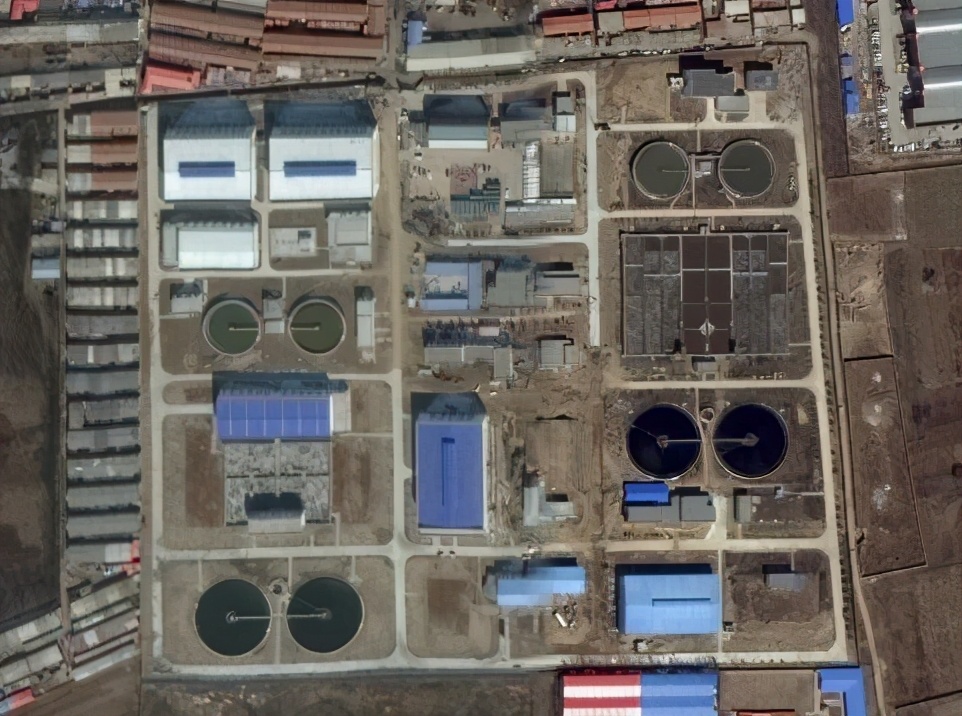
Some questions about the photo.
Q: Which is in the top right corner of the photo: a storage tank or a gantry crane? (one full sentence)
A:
What appears in the top right corner of the photo is a storage tank.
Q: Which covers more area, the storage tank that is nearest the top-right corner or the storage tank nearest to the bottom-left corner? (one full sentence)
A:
Compared with the storage tank that is nearest the top-right corner, the storage tank nearest to the bottom-left corner is the larger one.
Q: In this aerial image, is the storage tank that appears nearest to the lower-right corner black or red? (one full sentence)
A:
The color of the storage tank that appears nearest to the lower-right corner is black.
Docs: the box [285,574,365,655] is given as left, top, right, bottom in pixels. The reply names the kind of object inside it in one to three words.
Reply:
storage tank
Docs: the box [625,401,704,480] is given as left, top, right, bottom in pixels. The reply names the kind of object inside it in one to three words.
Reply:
storage tank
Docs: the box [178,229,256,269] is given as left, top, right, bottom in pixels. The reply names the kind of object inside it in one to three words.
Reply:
shed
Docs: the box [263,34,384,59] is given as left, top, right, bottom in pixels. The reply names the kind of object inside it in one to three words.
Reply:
building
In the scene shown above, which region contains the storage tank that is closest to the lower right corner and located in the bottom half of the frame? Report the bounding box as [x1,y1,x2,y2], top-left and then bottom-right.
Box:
[710,400,789,480]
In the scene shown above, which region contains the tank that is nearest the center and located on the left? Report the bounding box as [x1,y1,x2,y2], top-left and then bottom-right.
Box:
[287,298,347,355]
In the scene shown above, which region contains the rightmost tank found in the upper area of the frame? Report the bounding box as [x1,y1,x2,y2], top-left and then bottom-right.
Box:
[719,141,775,196]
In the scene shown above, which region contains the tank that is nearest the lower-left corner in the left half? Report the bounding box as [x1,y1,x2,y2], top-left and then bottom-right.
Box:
[194,577,273,658]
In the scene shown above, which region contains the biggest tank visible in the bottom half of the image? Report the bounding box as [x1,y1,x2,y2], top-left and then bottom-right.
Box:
[225,439,333,524]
